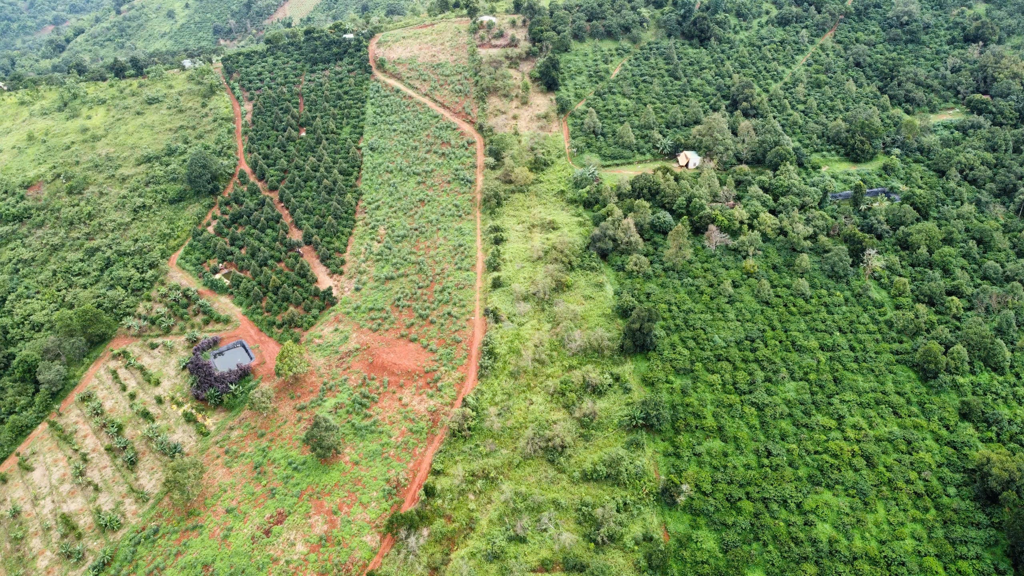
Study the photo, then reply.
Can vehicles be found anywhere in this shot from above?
No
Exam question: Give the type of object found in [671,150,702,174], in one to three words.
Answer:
shed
